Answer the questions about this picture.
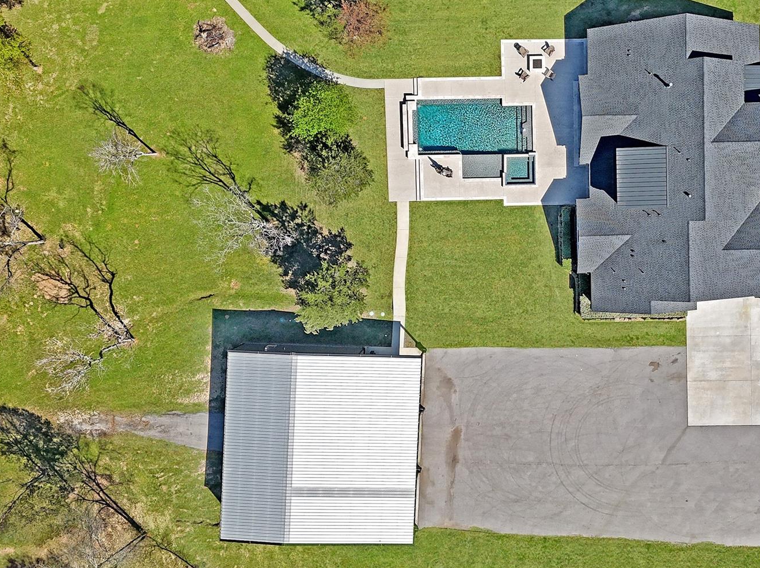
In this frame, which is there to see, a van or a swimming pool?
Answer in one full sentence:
This aerial view contains a swimming pool.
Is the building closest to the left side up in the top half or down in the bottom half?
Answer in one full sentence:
It is in the bottom half that the building closest to the left side appears.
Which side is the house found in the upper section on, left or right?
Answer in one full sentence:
The house found in the upper section sits on the right side.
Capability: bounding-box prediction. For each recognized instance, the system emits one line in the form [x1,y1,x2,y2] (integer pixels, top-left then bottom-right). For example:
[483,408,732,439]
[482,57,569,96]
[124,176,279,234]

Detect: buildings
[220,343,424,550]
[576,14,760,313]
